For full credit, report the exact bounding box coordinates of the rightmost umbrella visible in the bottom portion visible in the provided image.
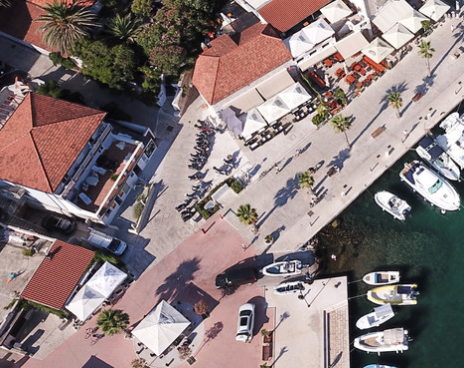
[132,300,191,356]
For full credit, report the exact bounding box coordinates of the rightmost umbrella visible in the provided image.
[419,0,451,23]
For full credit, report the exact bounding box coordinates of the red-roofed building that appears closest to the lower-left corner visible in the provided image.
[20,239,104,318]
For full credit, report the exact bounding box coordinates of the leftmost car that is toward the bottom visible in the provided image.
[39,216,79,237]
